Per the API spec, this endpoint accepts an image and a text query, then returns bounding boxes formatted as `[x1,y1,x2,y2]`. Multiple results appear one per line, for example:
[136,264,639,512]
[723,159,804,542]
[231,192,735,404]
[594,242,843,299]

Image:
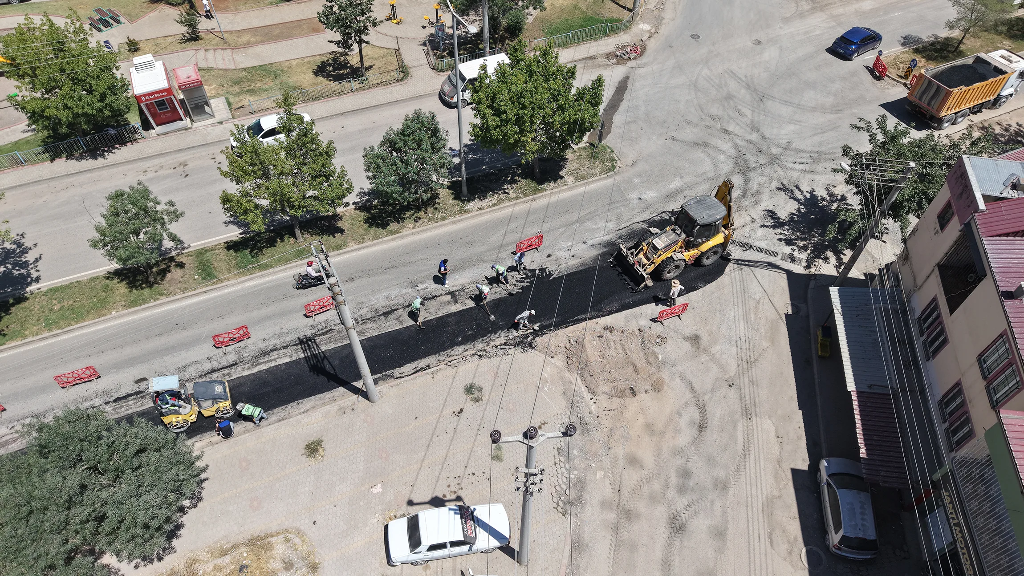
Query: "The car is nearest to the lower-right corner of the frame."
[819,455,887,569]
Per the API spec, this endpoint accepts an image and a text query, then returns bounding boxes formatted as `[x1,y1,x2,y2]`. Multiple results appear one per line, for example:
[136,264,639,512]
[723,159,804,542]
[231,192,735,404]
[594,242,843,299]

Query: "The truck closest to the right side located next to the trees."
[905,34,1024,126]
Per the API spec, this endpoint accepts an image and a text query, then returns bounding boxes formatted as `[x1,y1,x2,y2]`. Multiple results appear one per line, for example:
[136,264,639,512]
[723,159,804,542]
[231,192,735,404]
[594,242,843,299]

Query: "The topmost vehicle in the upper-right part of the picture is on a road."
[829,23,887,60]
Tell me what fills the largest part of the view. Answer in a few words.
paved ground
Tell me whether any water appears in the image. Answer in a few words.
No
